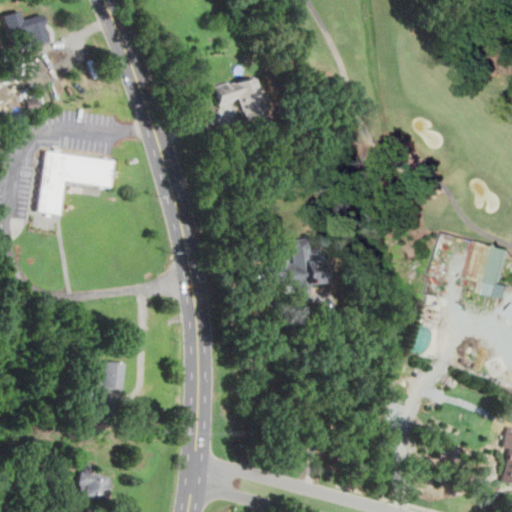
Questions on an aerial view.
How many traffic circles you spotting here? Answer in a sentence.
The count of traffic circles is 0.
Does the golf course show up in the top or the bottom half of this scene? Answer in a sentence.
The golf course sits in the top half of the picture.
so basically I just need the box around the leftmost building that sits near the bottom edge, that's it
[80,465,112,498]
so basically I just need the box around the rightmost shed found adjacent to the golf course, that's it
[483,244,506,284]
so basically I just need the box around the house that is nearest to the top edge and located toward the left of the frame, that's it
[5,12,50,43]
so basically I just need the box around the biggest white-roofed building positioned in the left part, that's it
[37,146,119,219]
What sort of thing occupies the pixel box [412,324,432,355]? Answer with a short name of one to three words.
swimming pool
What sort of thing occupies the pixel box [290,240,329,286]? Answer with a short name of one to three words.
house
